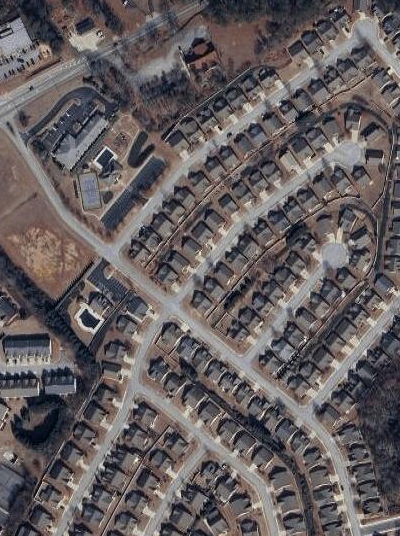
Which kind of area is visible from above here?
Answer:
residential area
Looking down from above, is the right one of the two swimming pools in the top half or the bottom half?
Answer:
top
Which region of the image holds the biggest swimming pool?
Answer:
left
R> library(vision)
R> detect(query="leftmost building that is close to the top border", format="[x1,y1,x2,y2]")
[0,19,32,59]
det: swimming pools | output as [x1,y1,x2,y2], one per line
[94,146,118,171]
[74,303,105,335]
